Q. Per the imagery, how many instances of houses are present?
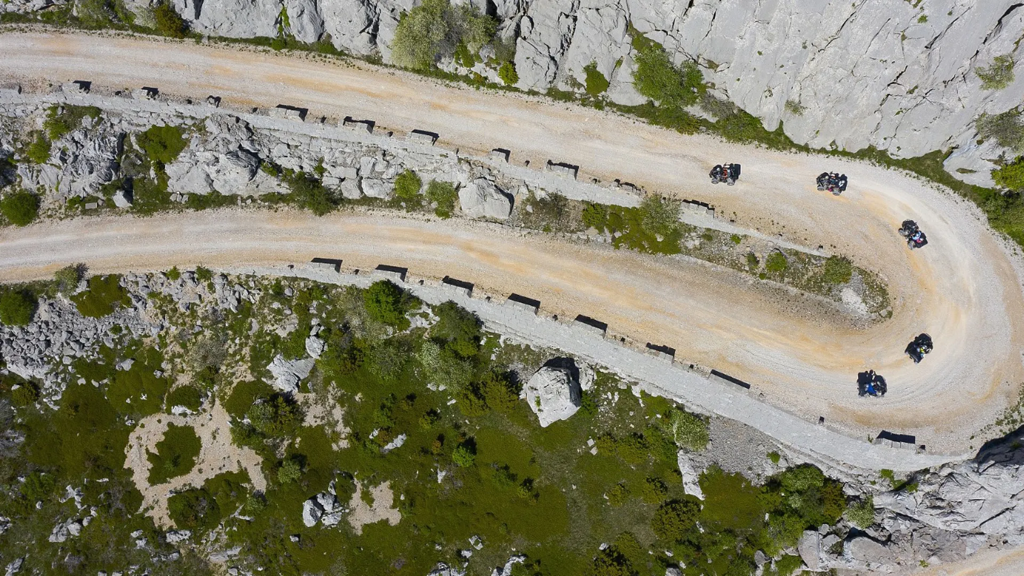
0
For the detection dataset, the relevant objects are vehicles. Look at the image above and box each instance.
[900,224,929,252]
[819,175,849,197]
[712,167,740,186]
[857,379,890,400]
[906,335,936,365]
